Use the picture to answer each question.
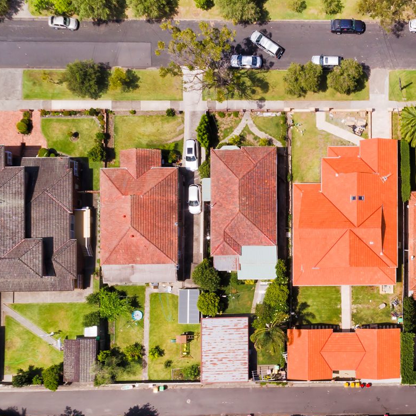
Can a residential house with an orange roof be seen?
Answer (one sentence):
Yes, this view includes a residential house with an orange roof.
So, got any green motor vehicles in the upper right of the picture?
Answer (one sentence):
No, looking in the upper right of the picture, there is no green motor vehicle.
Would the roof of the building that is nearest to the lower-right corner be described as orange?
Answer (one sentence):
Yes, the roof of the building that is nearest to the lower-right corner is orange.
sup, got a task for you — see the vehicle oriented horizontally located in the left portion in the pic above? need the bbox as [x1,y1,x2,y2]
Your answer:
[48,16,80,31]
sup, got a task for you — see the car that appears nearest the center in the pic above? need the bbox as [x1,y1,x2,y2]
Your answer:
[188,184,203,213]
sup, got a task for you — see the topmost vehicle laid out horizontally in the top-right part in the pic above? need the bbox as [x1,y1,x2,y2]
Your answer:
[331,18,366,34]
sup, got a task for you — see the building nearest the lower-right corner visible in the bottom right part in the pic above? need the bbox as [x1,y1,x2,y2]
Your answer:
[286,328,401,382]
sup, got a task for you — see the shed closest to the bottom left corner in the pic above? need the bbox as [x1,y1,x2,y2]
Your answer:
[64,339,100,383]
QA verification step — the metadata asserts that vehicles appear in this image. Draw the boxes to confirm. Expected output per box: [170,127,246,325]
[188,184,203,213]
[233,55,262,70]
[183,138,199,170]
[312,54,344,70]
[251,33,284,59]
[48,16,80,31]
[331,18,366,34]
